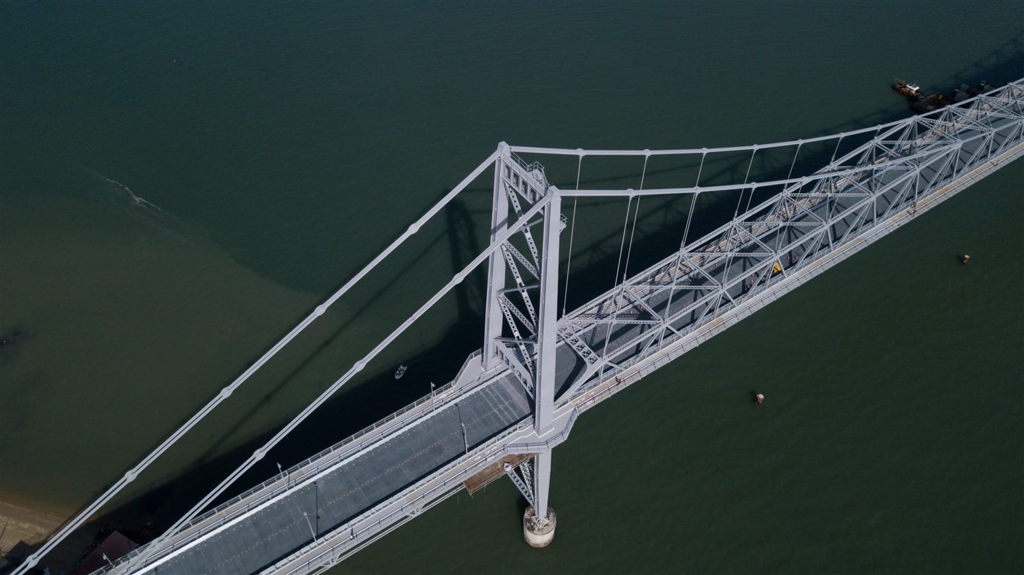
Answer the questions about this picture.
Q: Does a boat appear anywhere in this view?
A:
Yes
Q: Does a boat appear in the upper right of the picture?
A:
Yes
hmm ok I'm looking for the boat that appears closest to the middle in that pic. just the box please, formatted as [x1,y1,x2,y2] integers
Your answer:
[392,361,408,378]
